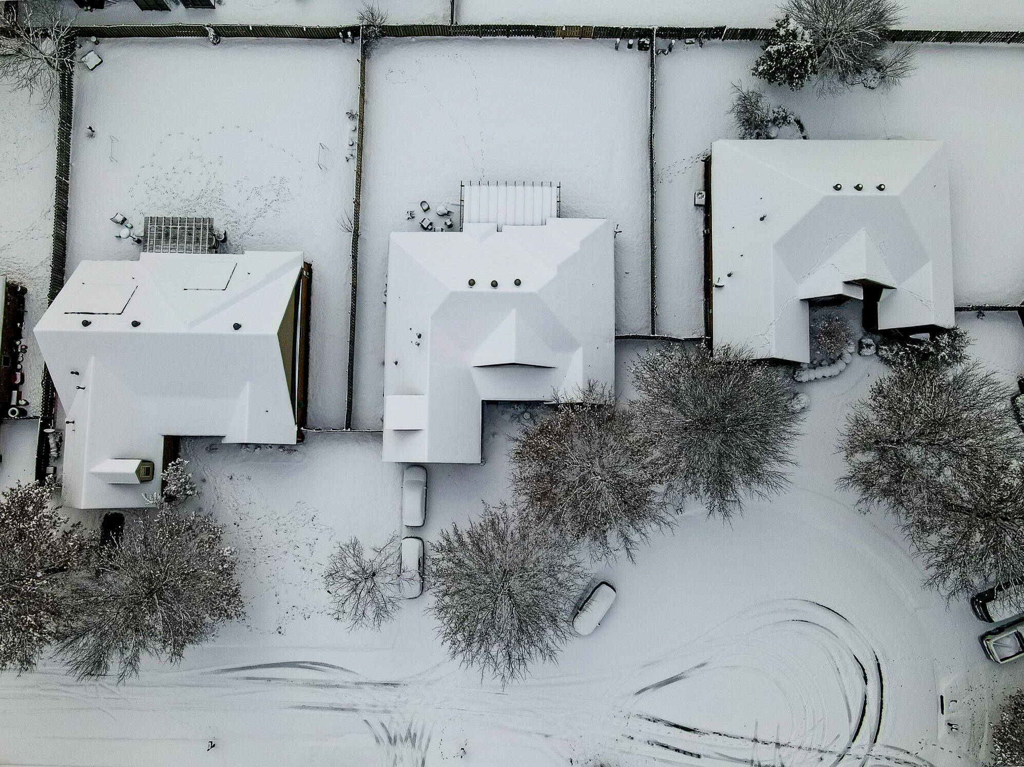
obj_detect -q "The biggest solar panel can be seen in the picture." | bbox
[60,280,138,313]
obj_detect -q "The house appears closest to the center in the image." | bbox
[383,219,624,464]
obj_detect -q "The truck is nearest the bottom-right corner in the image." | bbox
[980,619,1024,662]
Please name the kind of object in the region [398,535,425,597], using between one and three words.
vehicle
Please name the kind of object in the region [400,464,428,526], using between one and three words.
car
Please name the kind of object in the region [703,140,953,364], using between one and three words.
house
